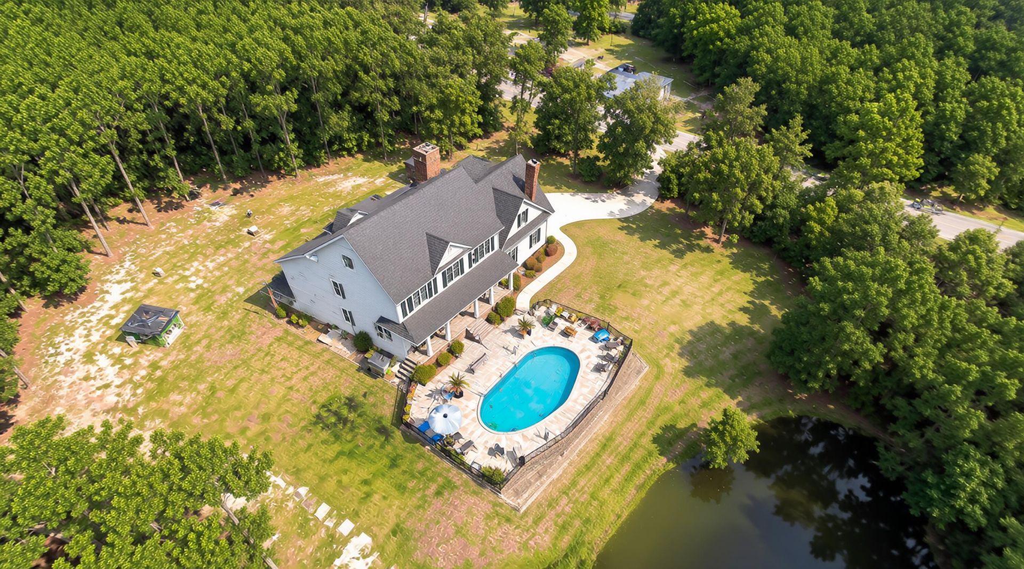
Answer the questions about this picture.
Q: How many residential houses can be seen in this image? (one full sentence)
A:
In total, there are 2 residential houses in the scene.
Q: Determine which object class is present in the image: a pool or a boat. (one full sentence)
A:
There is a pool in the scene.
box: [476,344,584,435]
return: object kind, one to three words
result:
swimming pool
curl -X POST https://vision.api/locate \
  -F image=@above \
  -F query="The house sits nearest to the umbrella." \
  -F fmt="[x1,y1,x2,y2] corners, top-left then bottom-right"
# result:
[260,145,556,380]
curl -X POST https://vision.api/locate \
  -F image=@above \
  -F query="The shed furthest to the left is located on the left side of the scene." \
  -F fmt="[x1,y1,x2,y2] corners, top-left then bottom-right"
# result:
[122,301,182,346]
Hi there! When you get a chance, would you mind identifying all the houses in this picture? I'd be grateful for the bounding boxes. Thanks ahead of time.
[600,72,672,104]
[260,145,556,380]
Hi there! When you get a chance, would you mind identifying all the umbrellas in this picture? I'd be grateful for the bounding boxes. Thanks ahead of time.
[428,410,462,443]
